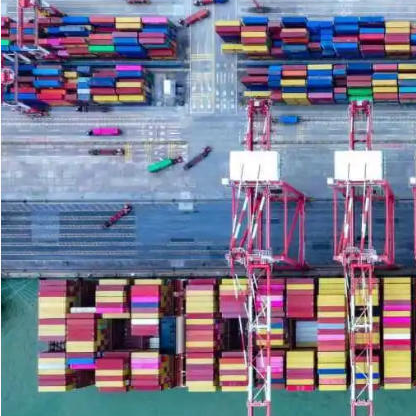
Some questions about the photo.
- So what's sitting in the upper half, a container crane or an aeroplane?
container crane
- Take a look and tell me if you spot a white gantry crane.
Yes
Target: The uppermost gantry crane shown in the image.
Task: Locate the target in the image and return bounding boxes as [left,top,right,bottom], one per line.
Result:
[13,0,67,64]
